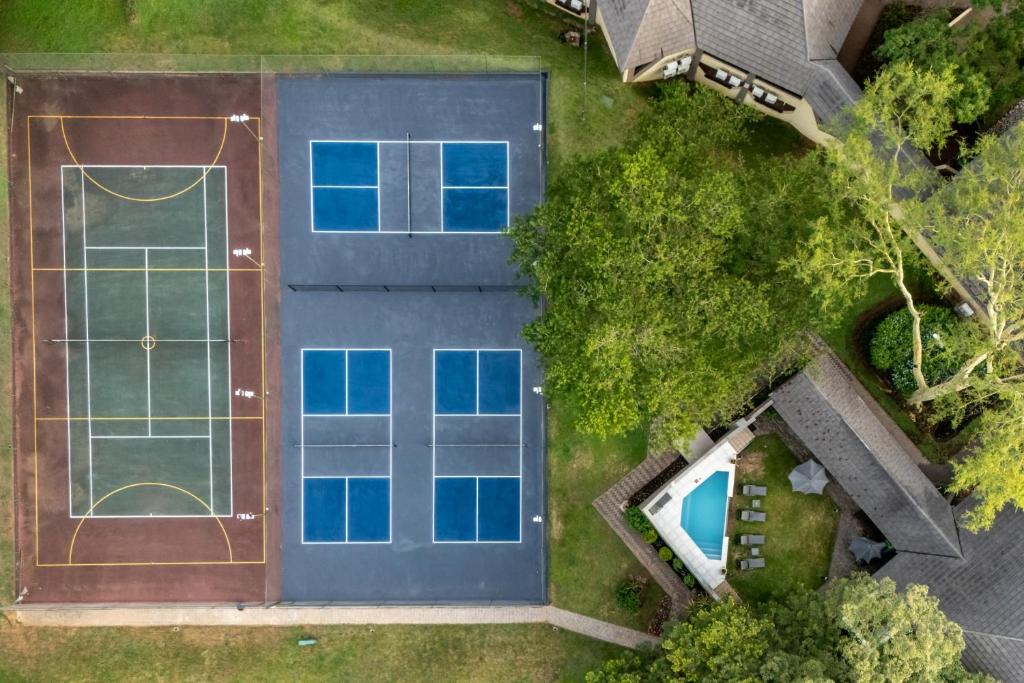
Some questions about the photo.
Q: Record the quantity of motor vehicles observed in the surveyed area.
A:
0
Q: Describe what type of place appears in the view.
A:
sports ground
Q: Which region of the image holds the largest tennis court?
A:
left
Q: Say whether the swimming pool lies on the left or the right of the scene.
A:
right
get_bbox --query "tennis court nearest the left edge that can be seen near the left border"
[10,73,281,605]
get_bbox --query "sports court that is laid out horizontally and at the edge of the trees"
[310,140,509,233]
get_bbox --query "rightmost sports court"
[433,349,522,543]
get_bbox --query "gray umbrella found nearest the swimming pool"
[787,457,827,498]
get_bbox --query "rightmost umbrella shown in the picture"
[844,532,885,567]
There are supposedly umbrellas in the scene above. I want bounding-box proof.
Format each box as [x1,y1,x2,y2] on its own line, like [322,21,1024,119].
[844,532,885,567]
[787,457,827,498]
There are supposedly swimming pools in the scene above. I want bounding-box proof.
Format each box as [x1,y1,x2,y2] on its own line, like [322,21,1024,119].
[644,446,736,591]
